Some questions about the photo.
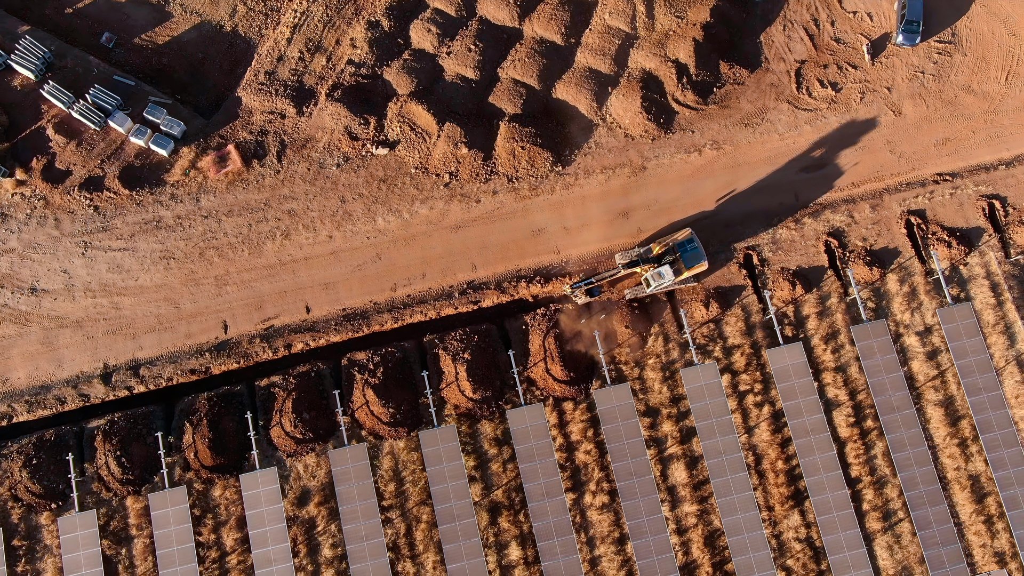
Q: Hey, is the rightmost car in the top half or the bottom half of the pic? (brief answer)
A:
top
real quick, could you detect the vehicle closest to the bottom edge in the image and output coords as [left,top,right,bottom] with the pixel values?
[562,228,710,307]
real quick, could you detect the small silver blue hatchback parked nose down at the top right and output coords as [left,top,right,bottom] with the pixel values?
[892,0,927,48]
